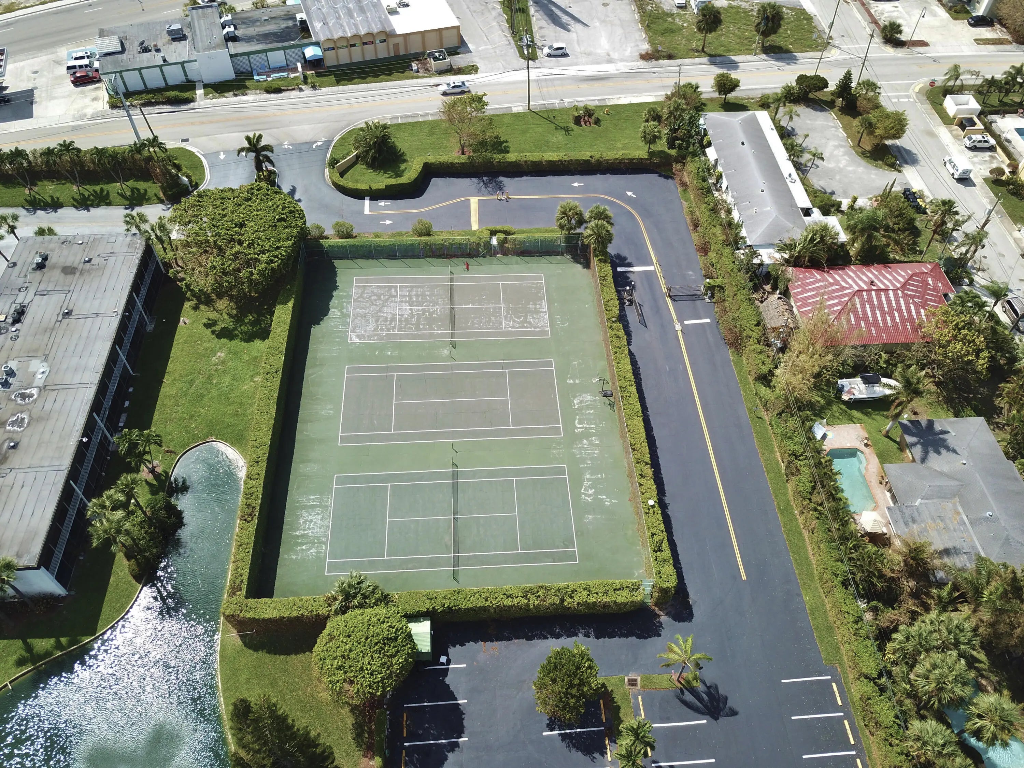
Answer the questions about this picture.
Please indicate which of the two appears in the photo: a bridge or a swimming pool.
swimming pool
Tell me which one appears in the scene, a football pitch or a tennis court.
tennis court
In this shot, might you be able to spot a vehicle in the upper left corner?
Yes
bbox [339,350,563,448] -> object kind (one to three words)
tennis court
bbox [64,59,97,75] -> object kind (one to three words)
car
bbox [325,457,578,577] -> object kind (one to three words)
tennis court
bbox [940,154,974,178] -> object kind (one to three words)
truck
